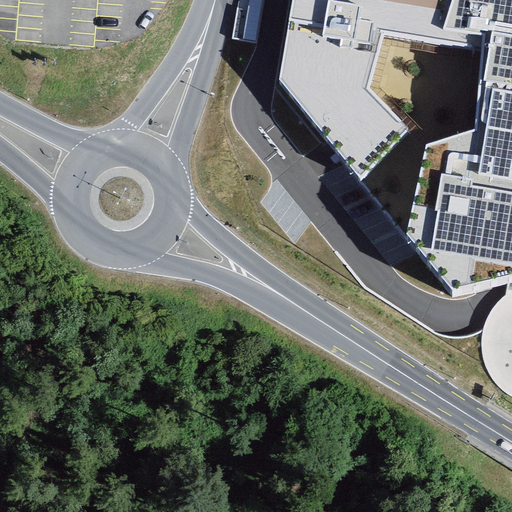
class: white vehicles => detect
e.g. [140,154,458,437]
[500,440,512,456]
[137,10,155,29]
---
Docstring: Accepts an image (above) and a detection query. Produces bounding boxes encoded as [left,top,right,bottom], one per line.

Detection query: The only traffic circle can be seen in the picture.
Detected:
[53,130,191,268]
